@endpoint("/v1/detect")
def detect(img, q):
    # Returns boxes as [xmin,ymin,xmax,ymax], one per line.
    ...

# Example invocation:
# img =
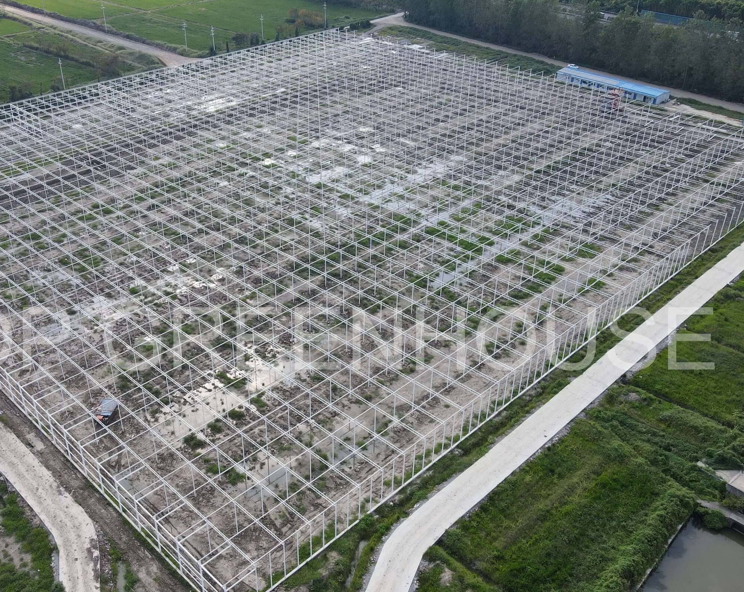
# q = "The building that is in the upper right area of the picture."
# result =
[553,67,673,105]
